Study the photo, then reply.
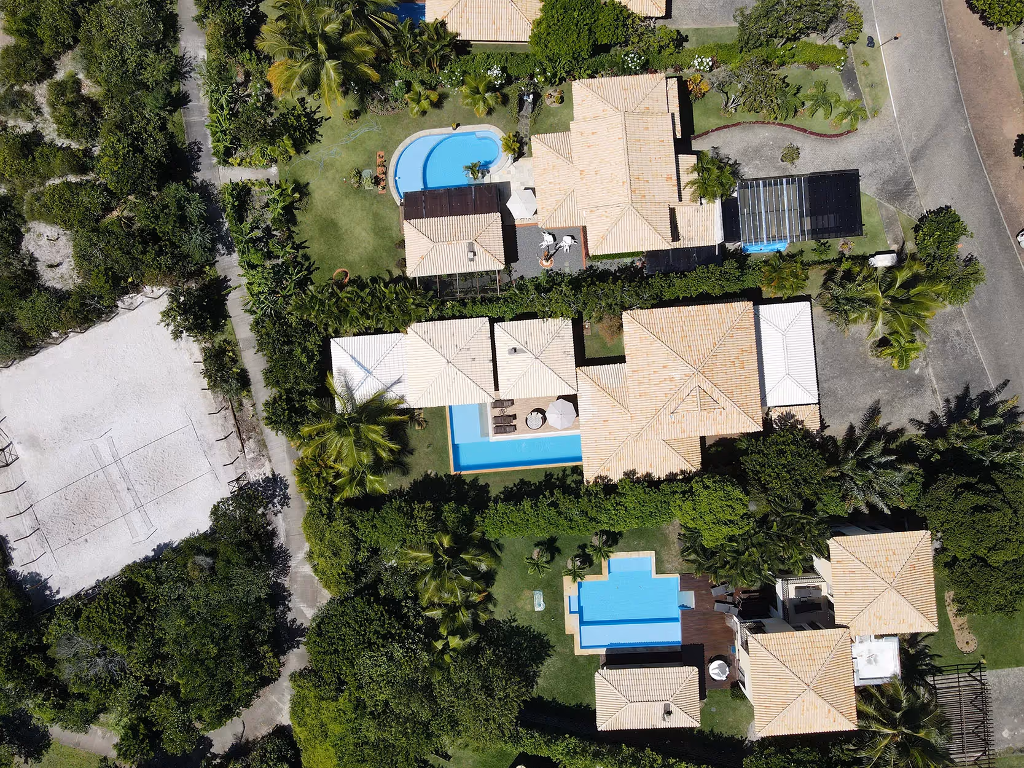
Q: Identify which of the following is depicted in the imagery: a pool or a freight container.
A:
pool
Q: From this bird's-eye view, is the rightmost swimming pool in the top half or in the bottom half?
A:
bottom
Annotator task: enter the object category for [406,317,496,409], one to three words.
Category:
building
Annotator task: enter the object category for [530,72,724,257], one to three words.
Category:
house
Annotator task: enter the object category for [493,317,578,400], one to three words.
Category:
building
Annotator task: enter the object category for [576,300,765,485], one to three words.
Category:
house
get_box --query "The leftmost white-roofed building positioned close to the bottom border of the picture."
[594,664,702,732]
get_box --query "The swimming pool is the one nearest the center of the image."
[449,372,583,474]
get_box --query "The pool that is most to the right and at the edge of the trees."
[563,550,695,655]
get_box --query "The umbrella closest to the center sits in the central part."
[545,398,577,430]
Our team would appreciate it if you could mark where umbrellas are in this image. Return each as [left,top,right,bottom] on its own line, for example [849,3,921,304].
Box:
[504,187,537,220]
[545,398,577,430]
